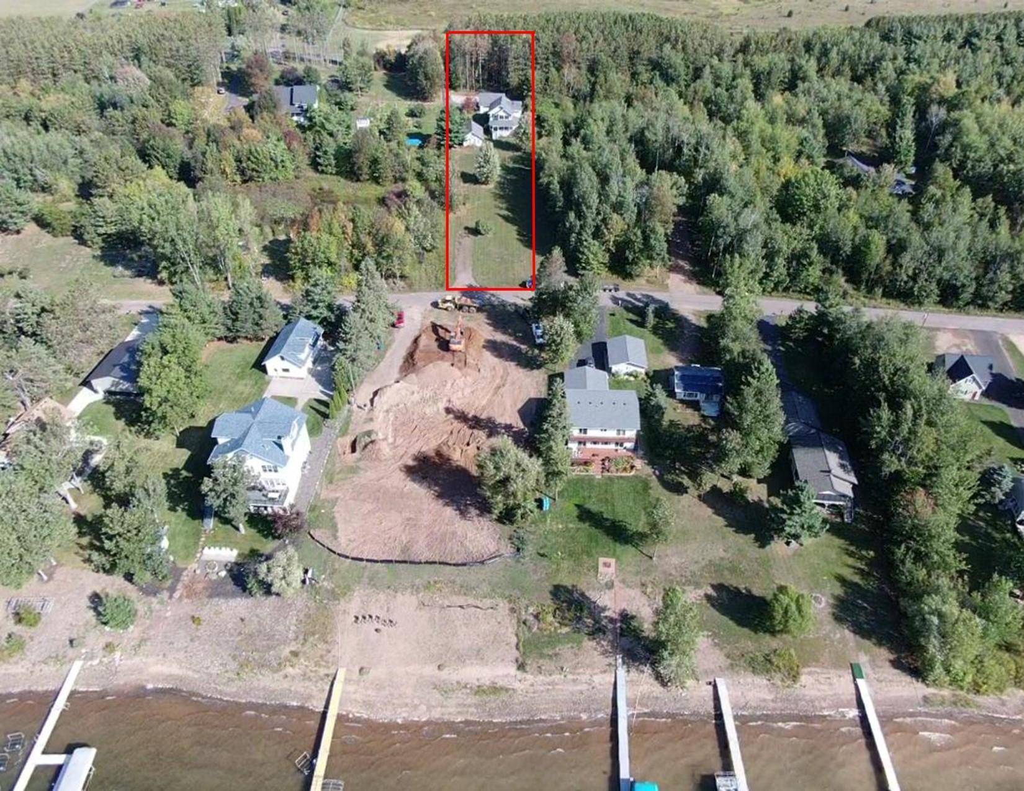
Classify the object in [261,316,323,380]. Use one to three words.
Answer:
building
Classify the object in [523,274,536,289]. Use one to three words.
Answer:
vehicle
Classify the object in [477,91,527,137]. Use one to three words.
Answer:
house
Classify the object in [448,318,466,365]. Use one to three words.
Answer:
work vehicle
